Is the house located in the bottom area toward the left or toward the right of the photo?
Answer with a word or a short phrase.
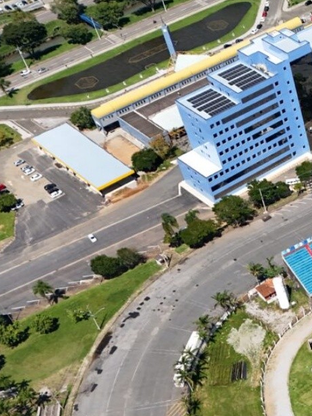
right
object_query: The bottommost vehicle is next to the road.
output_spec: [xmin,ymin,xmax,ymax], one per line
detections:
[182,337,204,361]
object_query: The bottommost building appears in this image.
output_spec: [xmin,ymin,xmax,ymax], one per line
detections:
[254,278,276,307]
